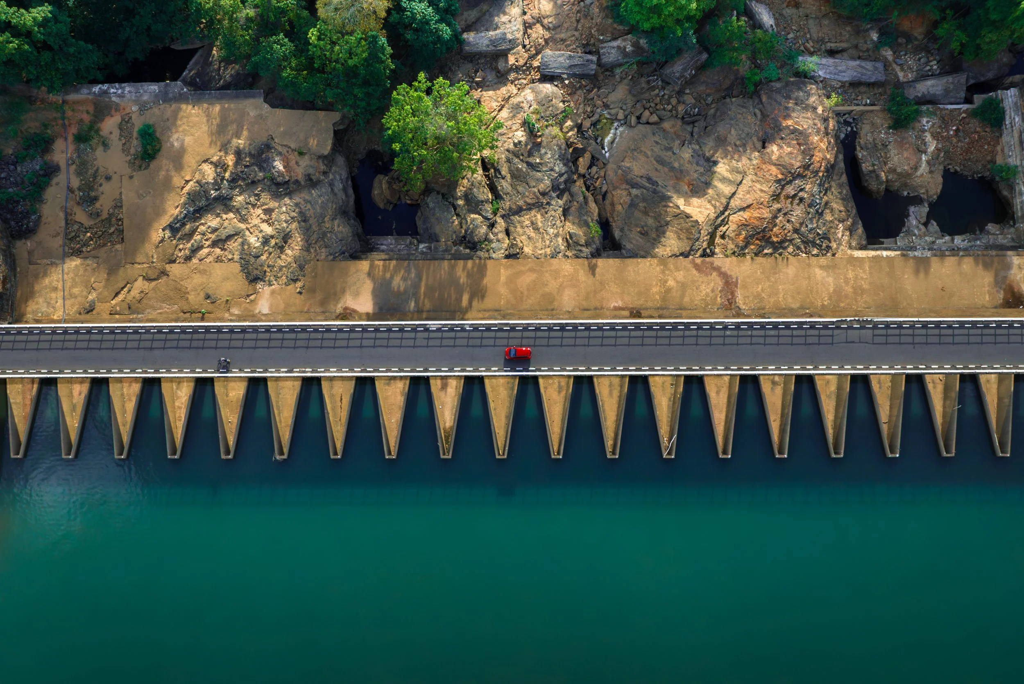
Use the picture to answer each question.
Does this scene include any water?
Yes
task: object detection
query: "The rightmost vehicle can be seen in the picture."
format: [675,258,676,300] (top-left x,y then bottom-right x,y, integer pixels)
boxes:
[505,345,532,360]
